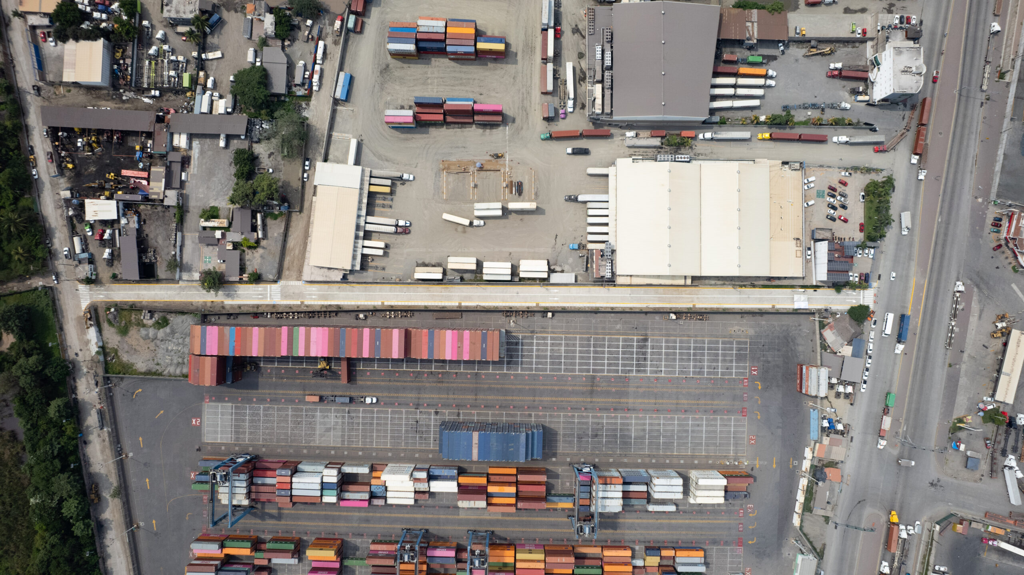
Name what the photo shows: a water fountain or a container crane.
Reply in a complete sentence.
I can see a container crane in this picture.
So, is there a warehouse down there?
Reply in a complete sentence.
Yes, you can see a warehouse in this photo.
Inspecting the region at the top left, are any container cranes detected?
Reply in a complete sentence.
No, the scene shows no container crane at the top left.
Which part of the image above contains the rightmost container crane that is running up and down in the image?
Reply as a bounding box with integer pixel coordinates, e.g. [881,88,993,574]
[565,461,601,543]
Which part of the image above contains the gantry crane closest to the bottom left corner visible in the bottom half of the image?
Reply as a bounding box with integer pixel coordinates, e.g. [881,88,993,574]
[206,452,259,529]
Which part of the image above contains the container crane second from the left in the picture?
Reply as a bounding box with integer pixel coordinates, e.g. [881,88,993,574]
[394,526,429,575]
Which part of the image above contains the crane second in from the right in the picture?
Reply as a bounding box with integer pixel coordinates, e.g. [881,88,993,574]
[465,528,495,575]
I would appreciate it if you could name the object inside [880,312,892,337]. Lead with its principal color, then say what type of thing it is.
white vehicle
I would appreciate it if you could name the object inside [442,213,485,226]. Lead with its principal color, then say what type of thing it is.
white vehicle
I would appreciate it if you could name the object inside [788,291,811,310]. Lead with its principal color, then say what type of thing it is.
white tent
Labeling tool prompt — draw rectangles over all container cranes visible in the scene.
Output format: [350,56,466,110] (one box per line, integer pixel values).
[465,528,495,575]
[394,526,429,575]
[206,452,259,529]
[565,461,601,543]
